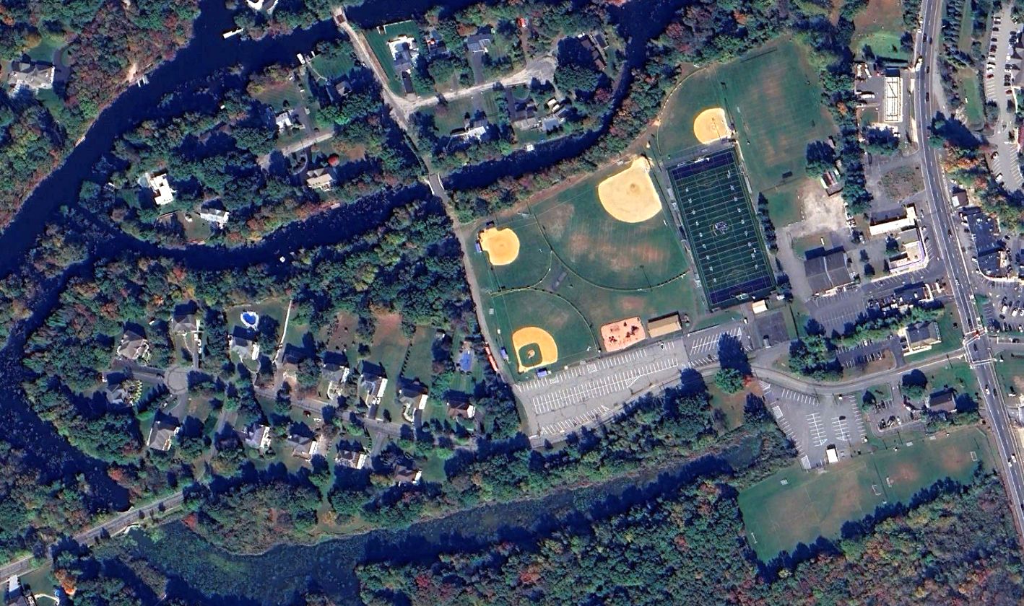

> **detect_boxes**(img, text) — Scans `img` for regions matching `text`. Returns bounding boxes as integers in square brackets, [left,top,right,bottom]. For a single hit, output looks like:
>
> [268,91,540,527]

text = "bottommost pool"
[241,311,259,330]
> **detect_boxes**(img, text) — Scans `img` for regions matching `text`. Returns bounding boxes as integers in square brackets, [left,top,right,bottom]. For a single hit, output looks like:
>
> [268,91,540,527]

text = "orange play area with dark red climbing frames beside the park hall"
[601,317,646,352]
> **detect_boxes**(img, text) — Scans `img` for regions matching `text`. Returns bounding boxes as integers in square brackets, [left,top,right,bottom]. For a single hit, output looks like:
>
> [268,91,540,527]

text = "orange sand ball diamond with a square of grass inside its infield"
[498,290,599,380]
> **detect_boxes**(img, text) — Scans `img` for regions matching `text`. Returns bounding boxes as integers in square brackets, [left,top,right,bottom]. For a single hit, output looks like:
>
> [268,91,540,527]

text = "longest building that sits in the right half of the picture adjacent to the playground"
[648,313,684,339]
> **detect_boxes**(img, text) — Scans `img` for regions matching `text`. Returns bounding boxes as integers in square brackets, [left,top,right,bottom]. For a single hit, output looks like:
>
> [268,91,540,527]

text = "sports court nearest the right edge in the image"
[755,310,787,344]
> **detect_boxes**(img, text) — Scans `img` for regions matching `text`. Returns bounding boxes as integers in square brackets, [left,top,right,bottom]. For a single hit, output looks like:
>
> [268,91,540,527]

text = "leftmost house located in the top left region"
[9,64,62,90]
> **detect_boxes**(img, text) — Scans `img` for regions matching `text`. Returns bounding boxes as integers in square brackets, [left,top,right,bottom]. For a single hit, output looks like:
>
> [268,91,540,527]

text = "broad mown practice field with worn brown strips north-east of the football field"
[721,36,828,182]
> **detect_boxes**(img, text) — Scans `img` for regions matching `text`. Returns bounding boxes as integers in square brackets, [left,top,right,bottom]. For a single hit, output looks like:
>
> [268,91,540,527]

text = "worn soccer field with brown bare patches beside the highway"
[870,426,992,522]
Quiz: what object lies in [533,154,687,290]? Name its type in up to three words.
baseball field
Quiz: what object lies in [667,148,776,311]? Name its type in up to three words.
sports field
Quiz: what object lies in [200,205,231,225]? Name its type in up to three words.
house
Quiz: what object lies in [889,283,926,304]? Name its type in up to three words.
building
